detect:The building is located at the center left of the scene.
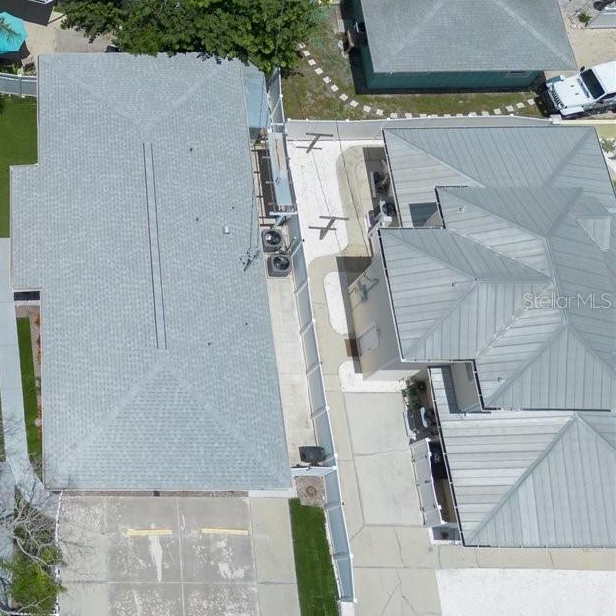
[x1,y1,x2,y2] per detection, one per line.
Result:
[10,53,295,493]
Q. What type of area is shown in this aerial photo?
residential area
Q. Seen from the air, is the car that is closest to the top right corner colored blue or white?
white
